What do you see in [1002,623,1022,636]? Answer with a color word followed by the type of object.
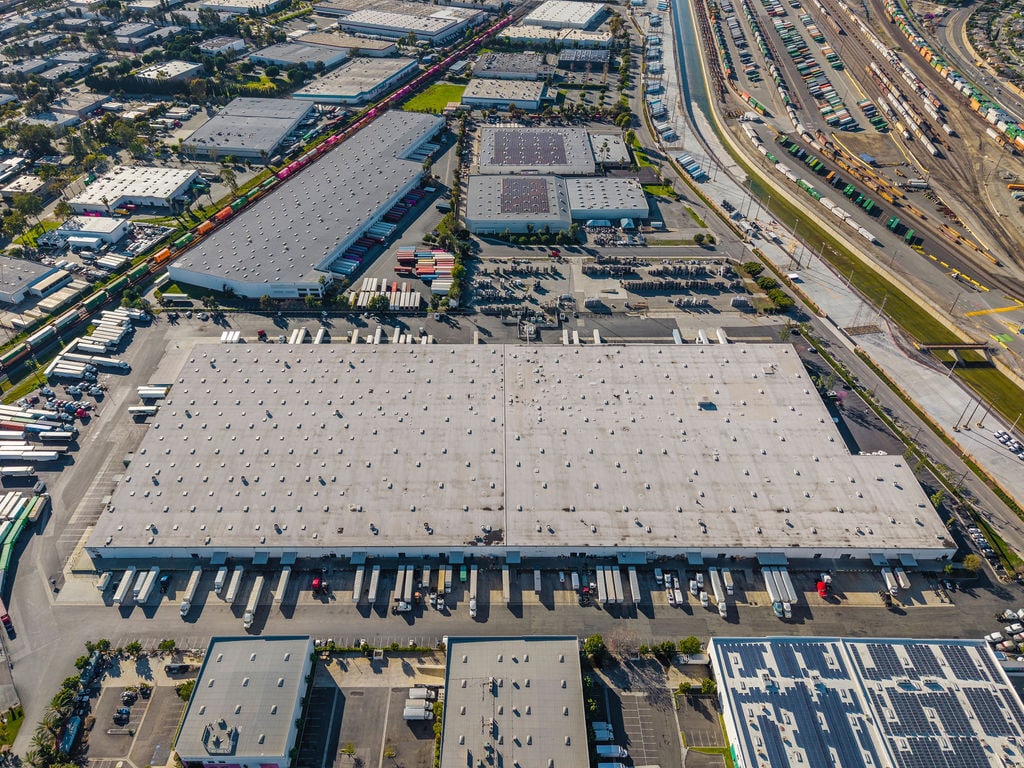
white vehicle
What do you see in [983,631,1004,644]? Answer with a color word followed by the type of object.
white vehicle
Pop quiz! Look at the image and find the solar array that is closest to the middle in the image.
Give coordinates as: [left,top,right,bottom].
[501,178,549,213]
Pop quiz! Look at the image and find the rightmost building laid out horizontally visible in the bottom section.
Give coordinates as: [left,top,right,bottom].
[707,638,1024,768]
